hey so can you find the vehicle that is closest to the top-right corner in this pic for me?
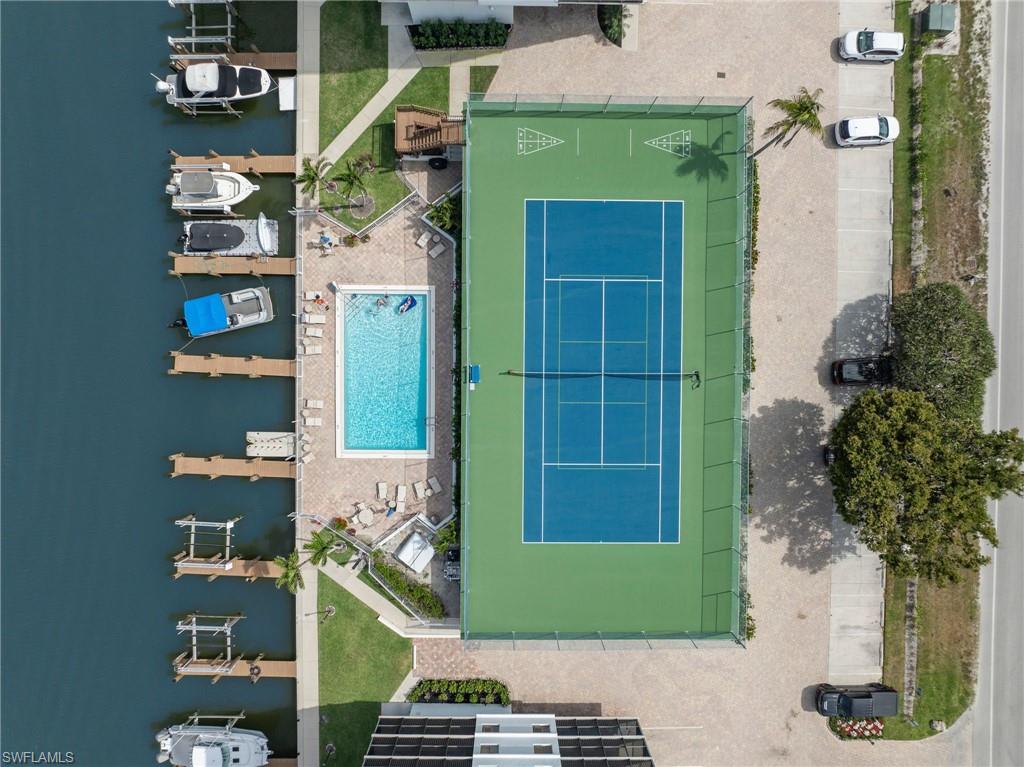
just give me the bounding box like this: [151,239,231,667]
[840,26,908,61]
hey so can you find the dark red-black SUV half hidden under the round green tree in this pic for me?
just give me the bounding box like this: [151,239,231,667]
[832,358,896,387]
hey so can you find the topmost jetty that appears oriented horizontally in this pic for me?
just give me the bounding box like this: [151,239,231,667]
[171,40,295,71]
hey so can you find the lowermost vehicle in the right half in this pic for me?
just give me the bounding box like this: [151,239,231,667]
[818,685,899,720]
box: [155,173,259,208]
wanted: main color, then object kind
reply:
white boat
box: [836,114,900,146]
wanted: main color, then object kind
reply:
white car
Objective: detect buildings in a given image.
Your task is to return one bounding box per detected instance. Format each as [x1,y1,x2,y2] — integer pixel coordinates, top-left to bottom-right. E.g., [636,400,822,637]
[363,711,656,767]
[378,0,641,9]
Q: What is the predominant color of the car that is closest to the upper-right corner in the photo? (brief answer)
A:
white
